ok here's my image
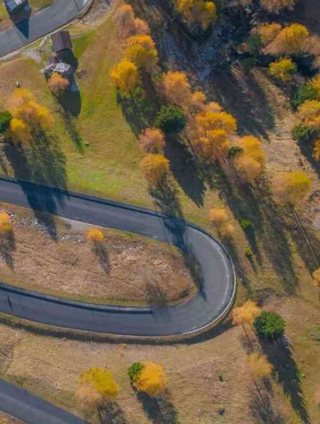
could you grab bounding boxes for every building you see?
[52,32,73,59]
[1,0,29,19]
